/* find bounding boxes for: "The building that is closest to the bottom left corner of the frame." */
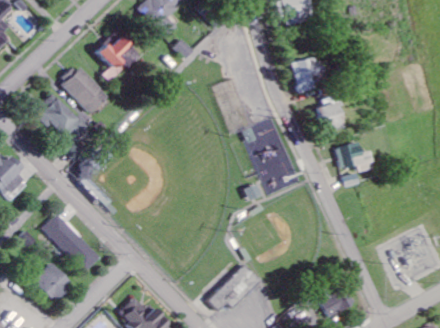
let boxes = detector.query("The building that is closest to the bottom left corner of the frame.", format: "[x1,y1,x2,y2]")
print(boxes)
[38,264,70,298]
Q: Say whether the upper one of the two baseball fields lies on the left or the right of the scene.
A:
left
